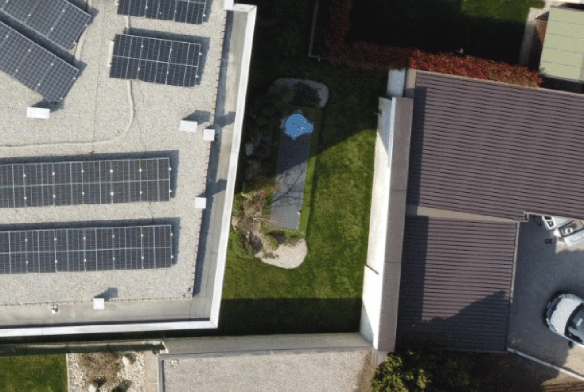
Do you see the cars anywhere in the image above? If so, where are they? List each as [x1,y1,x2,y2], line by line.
[536,296,584,353]
[546,220,584,256]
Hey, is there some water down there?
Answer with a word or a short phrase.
No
